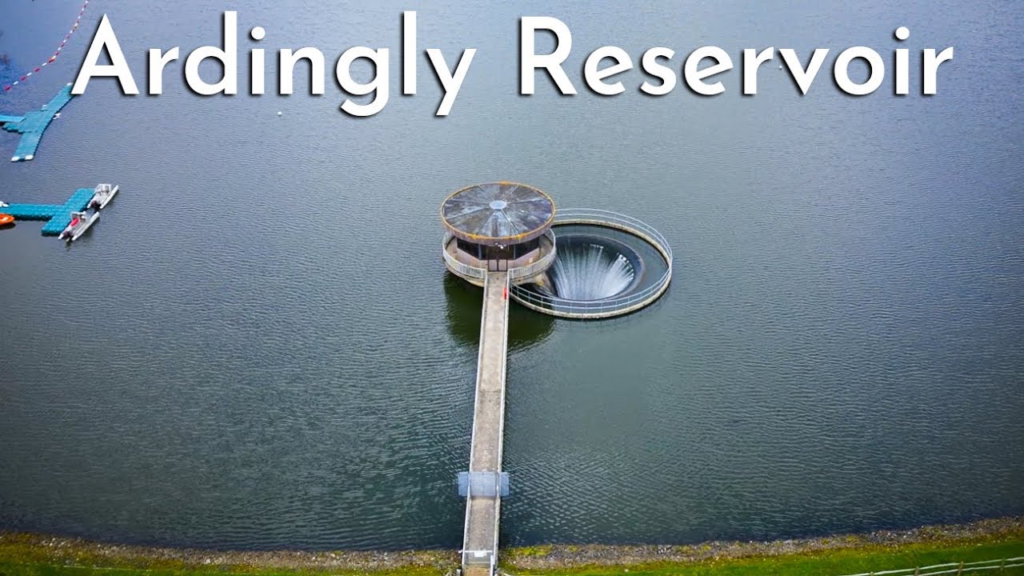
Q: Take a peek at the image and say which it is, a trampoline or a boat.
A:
boat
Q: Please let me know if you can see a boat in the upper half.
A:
Yes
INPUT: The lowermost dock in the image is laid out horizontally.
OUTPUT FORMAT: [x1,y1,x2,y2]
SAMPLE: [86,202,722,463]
[0,188,97,237]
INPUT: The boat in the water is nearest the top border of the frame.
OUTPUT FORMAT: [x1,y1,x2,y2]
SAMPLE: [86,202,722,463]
[84,179,119,212]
